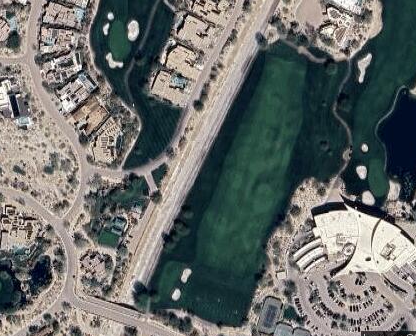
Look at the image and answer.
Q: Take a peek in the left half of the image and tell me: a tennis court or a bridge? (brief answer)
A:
bridge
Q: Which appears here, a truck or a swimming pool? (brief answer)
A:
swimming pool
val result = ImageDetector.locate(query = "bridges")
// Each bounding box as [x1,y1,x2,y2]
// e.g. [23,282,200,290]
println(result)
[91,294,165,330]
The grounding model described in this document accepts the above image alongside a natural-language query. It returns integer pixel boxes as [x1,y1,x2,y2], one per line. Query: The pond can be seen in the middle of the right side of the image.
[378,89,416,198]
